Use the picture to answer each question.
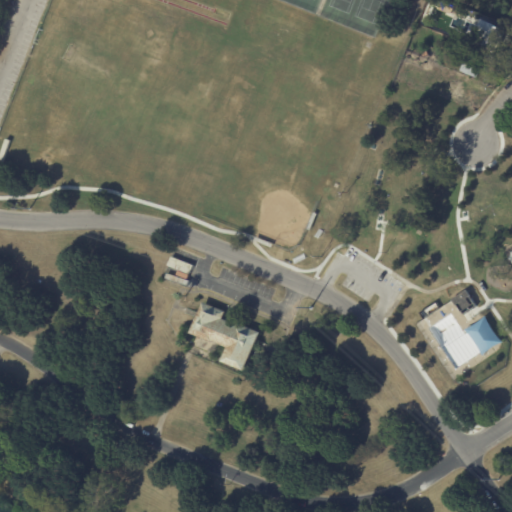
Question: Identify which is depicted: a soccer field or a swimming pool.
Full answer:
I can see a swimming pool in this picture.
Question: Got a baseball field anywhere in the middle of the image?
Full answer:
Yes, you'll find a baseball field in the middle of the image.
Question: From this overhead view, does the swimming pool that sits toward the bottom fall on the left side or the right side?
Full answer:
The swimming pool that sits toward the bottom is on the right side of the image.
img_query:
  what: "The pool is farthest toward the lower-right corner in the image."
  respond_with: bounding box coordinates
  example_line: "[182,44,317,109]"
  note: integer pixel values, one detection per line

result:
[418,302,504,380]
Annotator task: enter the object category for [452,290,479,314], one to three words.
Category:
building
